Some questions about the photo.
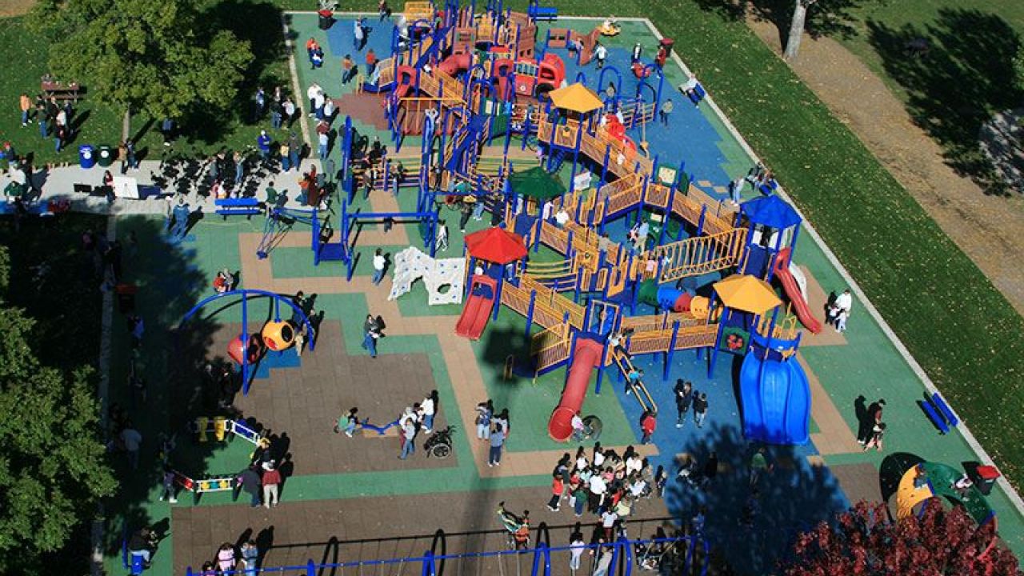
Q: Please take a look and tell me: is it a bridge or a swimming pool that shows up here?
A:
bridge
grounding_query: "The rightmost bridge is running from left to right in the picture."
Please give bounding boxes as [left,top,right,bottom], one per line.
[648,229,756,282]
